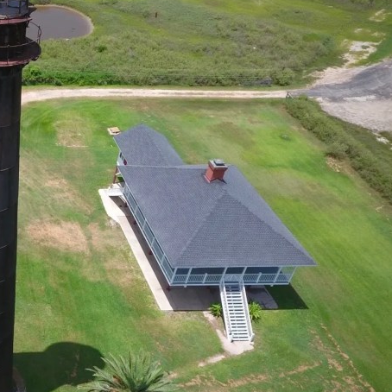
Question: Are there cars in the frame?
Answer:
No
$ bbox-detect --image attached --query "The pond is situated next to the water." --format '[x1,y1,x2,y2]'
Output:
[0,4,95,41]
